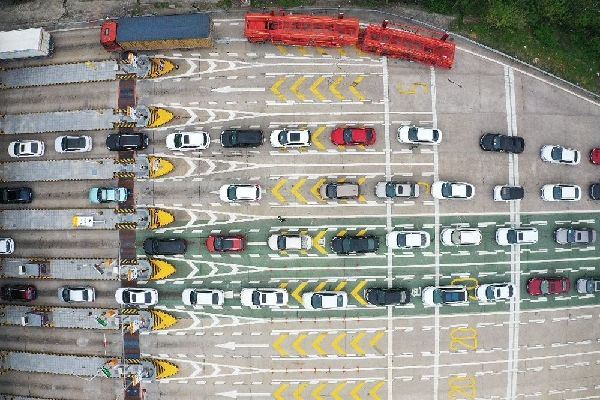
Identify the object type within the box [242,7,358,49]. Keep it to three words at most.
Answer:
truck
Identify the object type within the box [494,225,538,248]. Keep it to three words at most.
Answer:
car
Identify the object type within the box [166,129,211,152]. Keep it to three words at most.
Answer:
car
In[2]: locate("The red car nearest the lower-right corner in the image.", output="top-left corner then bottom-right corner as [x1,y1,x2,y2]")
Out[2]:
[524,276,571,298]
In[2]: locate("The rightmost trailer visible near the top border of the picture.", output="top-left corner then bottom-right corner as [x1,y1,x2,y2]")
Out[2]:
[357,16,457,71]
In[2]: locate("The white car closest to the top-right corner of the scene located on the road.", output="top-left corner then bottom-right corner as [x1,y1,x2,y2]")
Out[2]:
[538,143,580,165]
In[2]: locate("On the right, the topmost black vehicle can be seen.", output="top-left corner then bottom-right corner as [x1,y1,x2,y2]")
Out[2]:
[478,132,525,153]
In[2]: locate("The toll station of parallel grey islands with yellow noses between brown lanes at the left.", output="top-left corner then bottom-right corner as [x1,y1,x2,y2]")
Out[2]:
[0,25,179,400]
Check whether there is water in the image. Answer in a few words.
No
